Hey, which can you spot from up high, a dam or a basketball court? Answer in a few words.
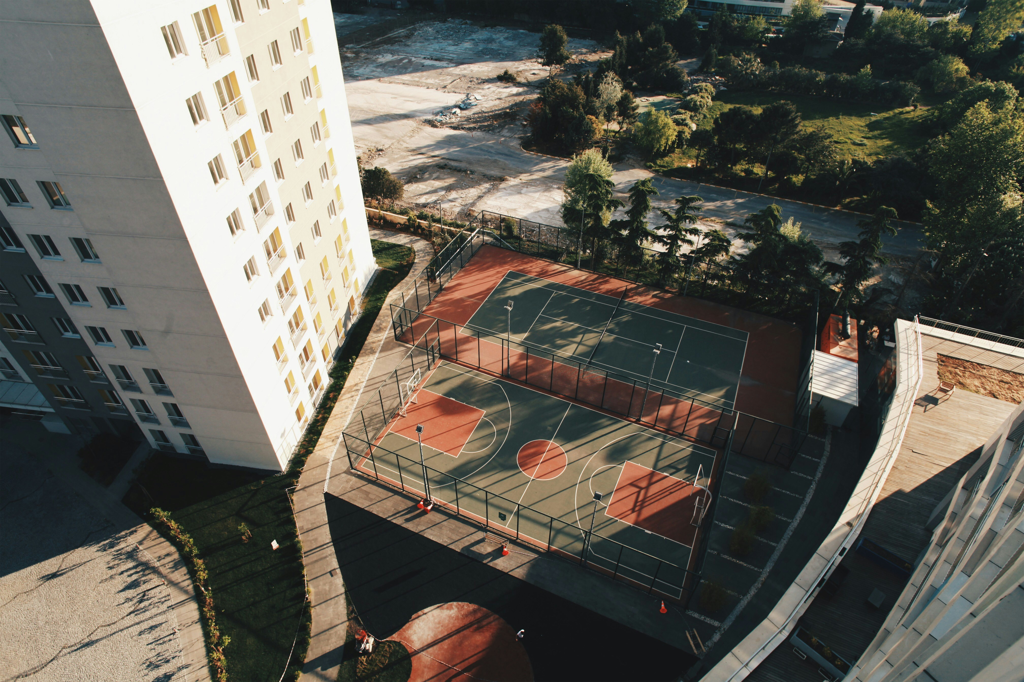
basketball court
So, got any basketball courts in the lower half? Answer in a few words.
Yes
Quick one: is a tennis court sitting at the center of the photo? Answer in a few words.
Yes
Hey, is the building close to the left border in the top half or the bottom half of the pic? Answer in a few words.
top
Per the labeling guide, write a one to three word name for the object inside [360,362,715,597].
basketball court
